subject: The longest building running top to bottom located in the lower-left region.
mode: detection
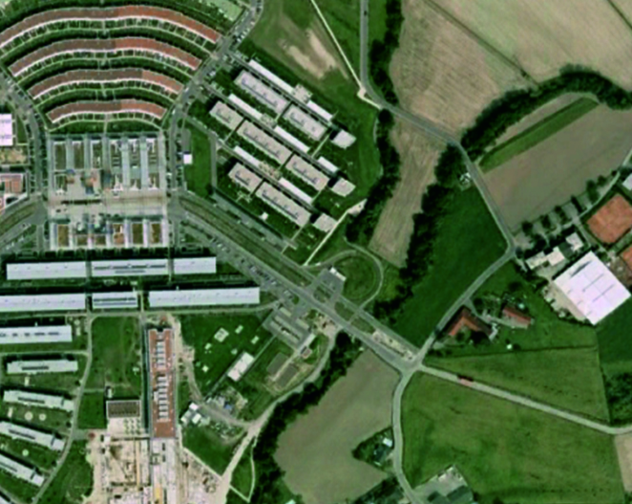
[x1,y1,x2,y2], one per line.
[149,328,176,438]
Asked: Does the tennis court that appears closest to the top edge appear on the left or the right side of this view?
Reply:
right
